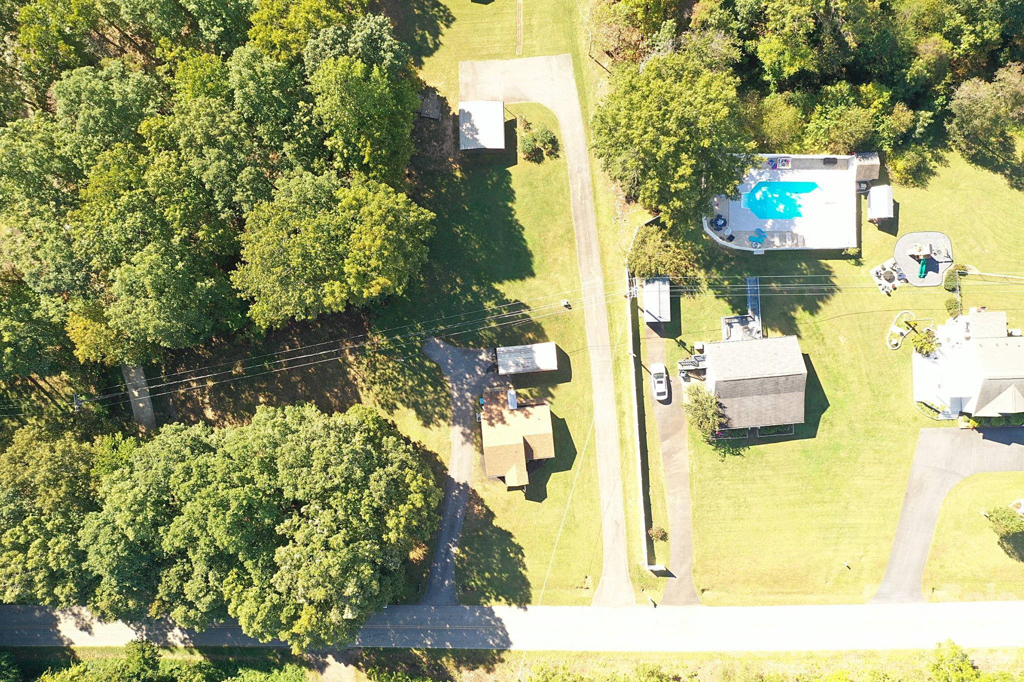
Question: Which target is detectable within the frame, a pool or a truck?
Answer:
pool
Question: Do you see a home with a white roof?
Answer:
Yes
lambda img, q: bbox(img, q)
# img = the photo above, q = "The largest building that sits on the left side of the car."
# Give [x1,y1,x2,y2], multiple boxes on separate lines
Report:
[481,389,555,486]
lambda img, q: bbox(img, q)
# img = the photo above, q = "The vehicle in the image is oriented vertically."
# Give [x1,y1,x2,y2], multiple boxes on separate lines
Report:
[651,364,670,402]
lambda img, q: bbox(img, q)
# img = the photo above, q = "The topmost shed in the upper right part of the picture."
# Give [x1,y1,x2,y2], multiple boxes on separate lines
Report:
[848,151,882,182]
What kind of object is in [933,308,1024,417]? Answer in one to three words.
house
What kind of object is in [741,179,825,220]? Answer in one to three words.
swimming pool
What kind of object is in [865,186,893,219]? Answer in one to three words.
shed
